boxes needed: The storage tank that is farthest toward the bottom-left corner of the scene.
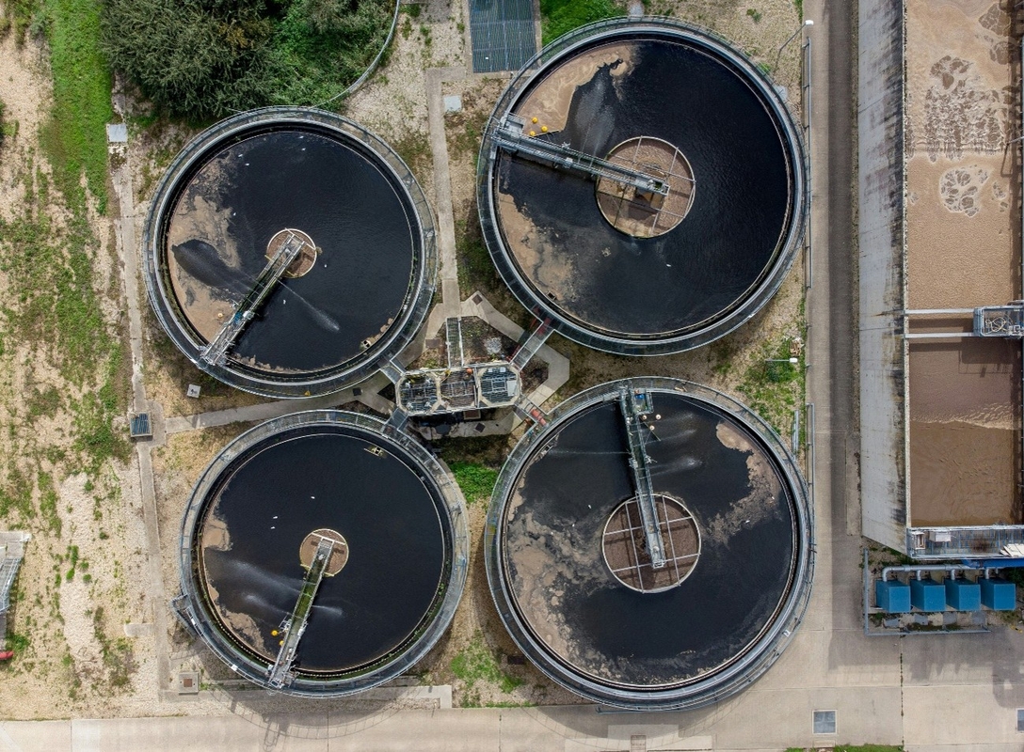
[180,410,469,698]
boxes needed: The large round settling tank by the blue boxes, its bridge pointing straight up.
[484,377,816,709]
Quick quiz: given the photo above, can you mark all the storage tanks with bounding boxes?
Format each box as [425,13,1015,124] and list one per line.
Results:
[144,106,436,397]
[180,410,469,698]
[484,377,816,709]
[857,0,1022,556]
[477,19,811,354]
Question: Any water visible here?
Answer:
Yes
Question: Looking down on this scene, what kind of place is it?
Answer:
industrial area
